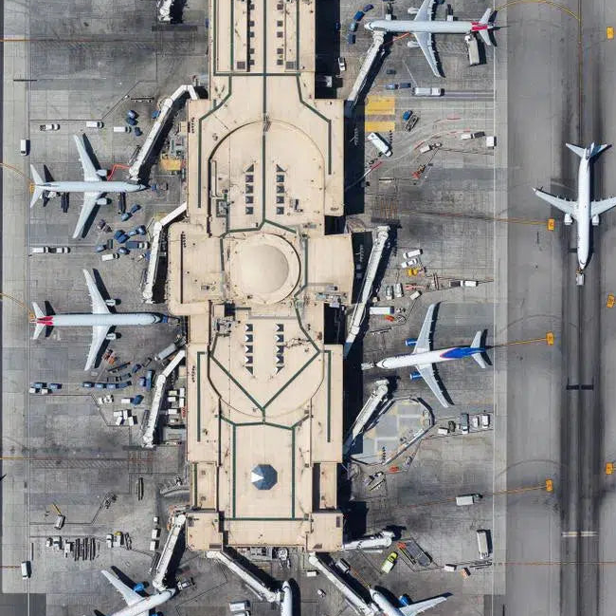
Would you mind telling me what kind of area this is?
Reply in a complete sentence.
This looks like an airport.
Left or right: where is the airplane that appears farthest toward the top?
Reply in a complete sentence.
The airplane that appears farthest toward the top appears in the right half of the scene.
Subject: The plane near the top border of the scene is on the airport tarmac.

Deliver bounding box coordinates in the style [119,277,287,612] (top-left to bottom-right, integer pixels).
[365,0,497,77]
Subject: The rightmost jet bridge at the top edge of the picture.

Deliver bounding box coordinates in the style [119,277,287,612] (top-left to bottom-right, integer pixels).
[345,29,385,109]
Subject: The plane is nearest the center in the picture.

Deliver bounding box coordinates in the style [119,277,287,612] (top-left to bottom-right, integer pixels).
[376,302,491,407]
